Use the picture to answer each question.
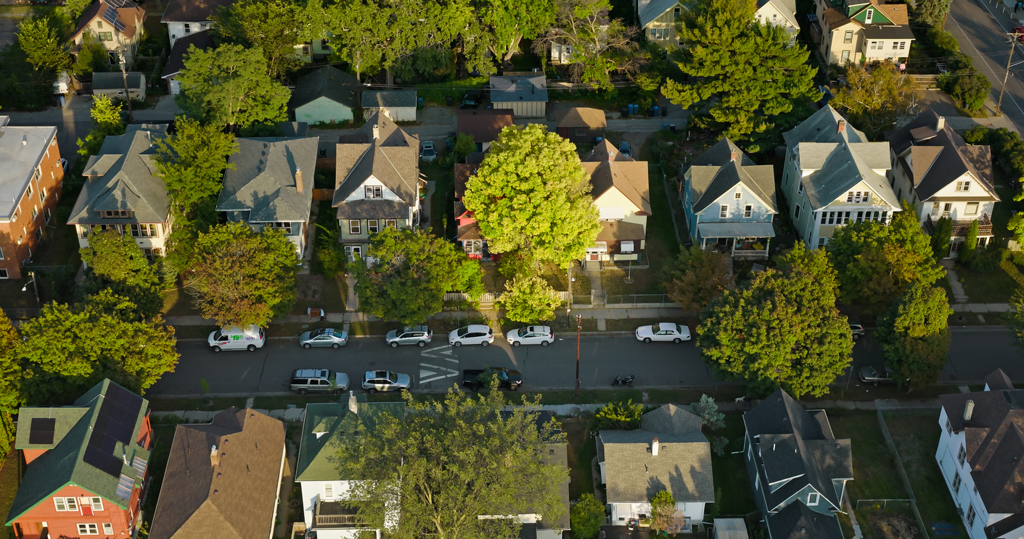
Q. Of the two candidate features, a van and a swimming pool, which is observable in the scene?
van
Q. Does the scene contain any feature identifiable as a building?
Yes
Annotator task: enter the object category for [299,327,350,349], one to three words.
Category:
car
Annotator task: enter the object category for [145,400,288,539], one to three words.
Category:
house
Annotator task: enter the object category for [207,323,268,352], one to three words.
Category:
van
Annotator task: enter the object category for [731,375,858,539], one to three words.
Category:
house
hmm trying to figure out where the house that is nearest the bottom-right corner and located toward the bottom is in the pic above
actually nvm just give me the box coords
[926,361,1024,539]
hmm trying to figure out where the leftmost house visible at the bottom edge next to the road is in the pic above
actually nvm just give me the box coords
[0,376,176,539]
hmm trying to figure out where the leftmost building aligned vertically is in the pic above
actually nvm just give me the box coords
[0,112,68,278]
